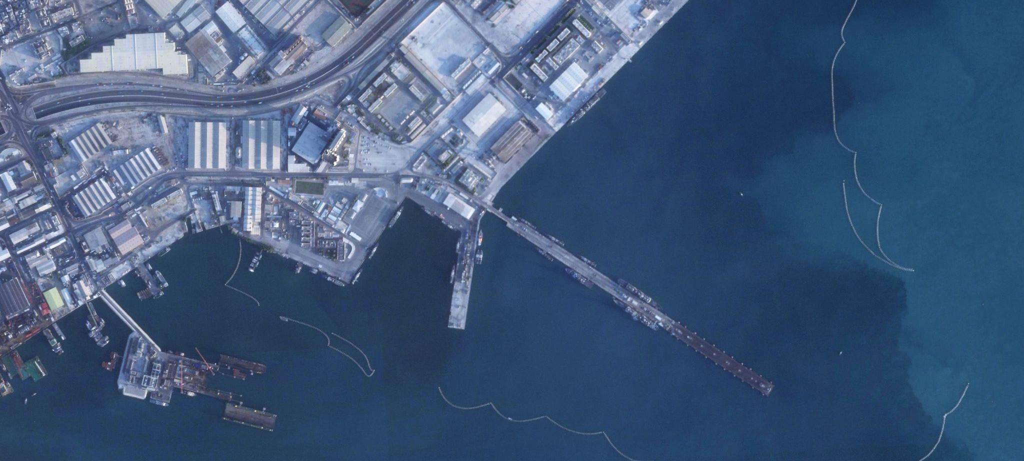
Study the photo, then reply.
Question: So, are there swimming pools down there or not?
No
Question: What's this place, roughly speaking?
port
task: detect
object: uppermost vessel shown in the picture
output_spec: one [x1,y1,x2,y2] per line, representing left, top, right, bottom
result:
[568,89,606,126]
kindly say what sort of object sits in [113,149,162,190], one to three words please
building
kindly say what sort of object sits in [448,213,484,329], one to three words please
pier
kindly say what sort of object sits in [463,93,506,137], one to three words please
building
